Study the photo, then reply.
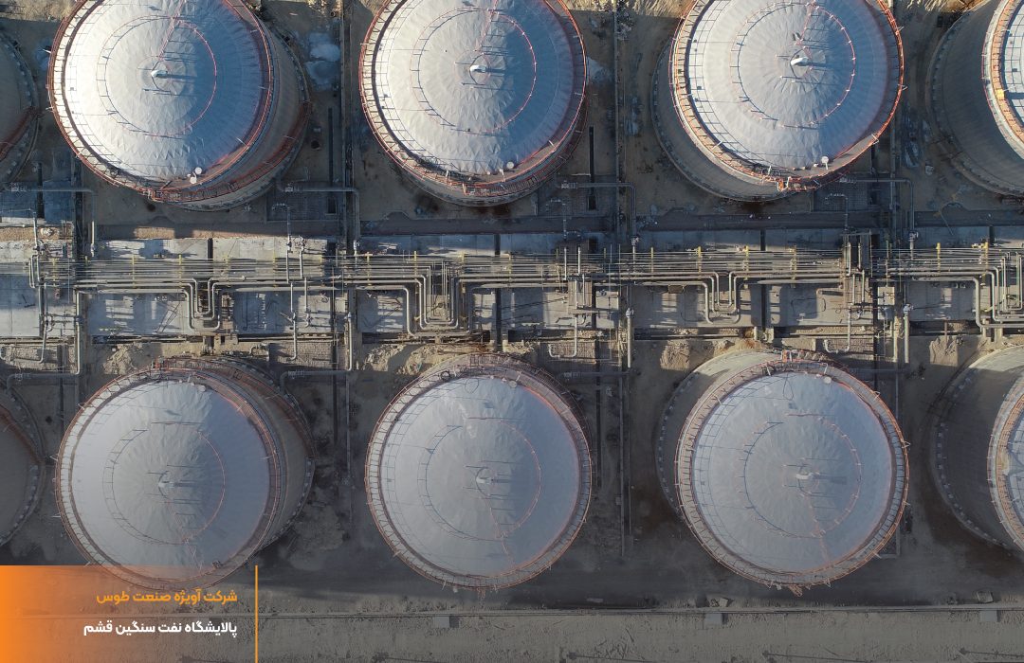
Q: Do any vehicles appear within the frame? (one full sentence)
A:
No, no vehicle is visible in the view.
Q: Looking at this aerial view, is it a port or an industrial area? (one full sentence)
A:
The area seen from above is an industrial area.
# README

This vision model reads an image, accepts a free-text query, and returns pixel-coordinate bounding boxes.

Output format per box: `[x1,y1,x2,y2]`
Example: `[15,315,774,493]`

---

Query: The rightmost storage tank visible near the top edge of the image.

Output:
[927,0,1024,199]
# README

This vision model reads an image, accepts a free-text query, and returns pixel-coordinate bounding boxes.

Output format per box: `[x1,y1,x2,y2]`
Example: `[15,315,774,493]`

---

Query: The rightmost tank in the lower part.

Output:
[930,345,1024,555]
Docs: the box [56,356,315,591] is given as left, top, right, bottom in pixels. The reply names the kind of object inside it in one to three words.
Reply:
storage tank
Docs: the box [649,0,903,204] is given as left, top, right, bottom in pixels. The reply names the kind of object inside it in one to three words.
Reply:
storage tank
